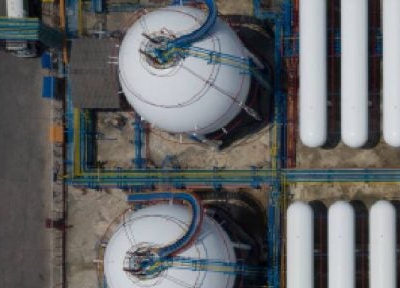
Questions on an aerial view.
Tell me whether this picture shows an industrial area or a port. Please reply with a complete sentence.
It's an industrial area.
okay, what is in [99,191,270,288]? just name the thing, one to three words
storage tank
